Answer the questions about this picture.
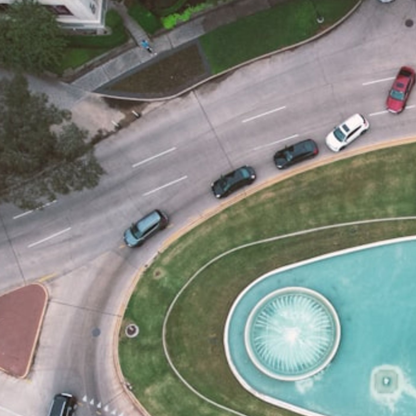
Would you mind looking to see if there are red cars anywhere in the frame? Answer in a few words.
Yes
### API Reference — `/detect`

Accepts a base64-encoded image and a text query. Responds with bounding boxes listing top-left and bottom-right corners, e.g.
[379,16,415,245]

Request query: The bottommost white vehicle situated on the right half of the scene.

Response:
[325,113,369,153]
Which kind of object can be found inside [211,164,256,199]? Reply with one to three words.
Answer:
car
